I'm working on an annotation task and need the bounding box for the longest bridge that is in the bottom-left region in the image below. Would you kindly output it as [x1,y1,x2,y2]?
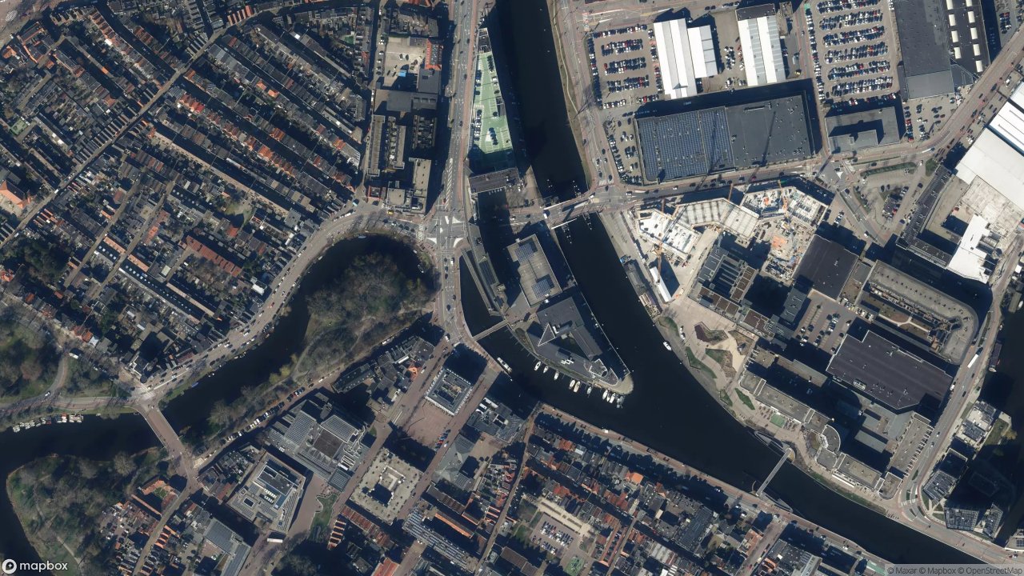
[134,395,193,466]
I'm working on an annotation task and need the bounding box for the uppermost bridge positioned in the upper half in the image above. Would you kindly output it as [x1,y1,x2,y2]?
[542,189,597,229]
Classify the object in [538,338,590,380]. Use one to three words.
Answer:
building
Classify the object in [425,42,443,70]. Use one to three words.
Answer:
building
